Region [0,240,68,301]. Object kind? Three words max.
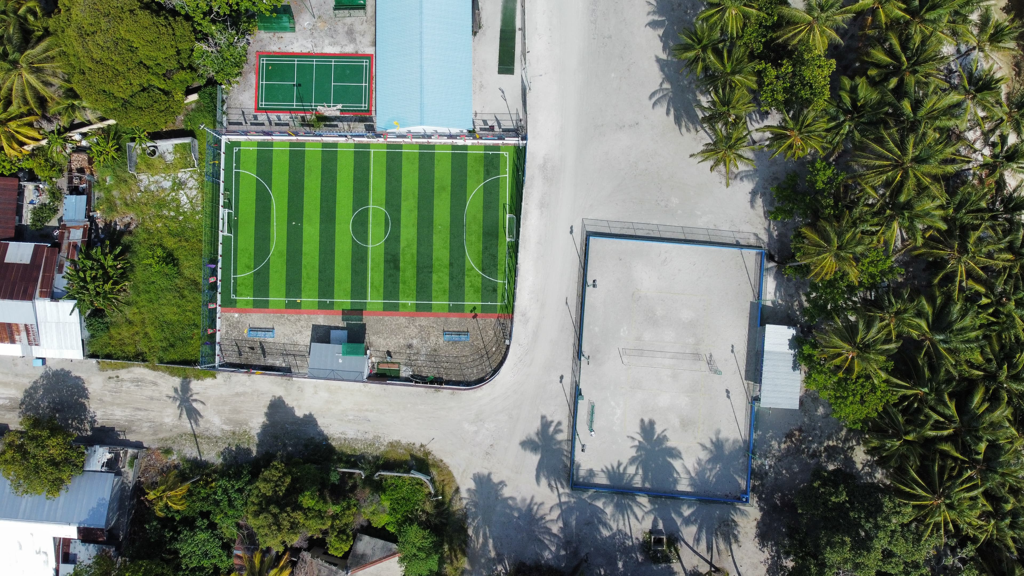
house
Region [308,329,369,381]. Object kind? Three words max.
building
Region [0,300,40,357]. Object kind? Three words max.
house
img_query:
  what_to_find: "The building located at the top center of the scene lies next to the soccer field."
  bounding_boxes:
[375,0,473,136]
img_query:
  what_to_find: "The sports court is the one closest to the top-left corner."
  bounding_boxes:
[255,52,373,115]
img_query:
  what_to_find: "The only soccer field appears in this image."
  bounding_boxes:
[221,141,524,313]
